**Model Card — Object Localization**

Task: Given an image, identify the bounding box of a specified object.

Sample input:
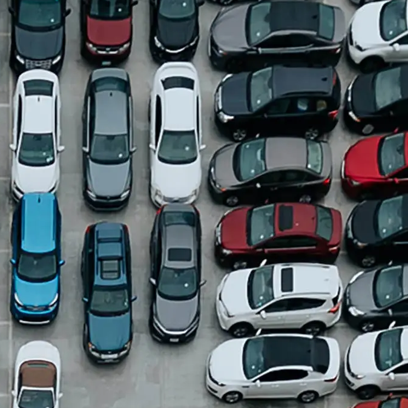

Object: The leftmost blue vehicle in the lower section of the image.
[9,197,67,324]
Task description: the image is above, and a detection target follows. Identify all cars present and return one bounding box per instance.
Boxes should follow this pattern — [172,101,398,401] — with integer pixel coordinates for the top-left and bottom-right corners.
[344,124,408,201]
[80,224,138,362]
[211,135,335,206]
[347,261,408,333]
[215,200,344,272]
[79,0,140,61]
[148,0,207,58]
[348,325,408,401]
[215,64,343,142]
[82,73,138,209]
[150,205,207,343]
[348,61,408,135]
[351,0,408,69]
[9,197,67,324]
[219,263,345,338]
[211,0,347,73]
[207,333,342,404]
[11,341,64,408]
[150,66,207,205]
[349,192,408,267]
[11,71,65,201]
[7,0,72,71]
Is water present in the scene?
No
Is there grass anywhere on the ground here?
No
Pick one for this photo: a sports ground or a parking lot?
parking lot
